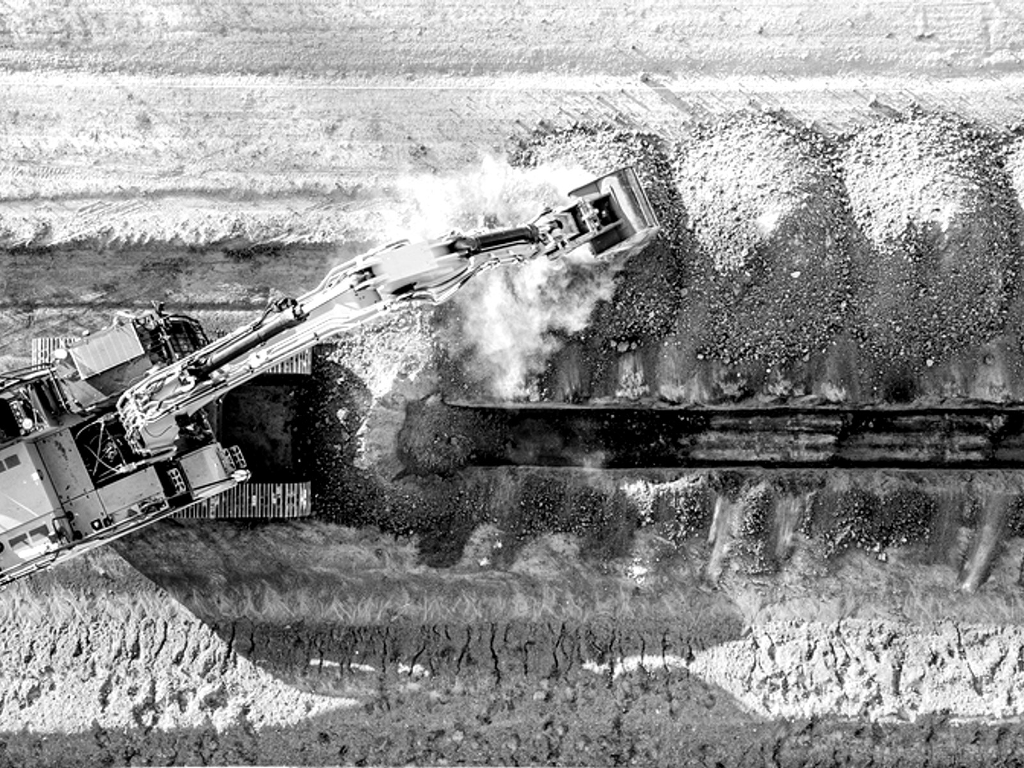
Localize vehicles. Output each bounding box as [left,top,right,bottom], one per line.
[0,162,665,590]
